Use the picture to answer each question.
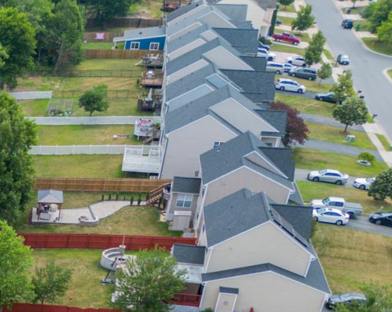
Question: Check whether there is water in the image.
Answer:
No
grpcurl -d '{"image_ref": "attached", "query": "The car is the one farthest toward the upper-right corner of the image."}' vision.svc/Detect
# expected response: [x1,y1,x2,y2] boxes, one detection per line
[341,16,356,29]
